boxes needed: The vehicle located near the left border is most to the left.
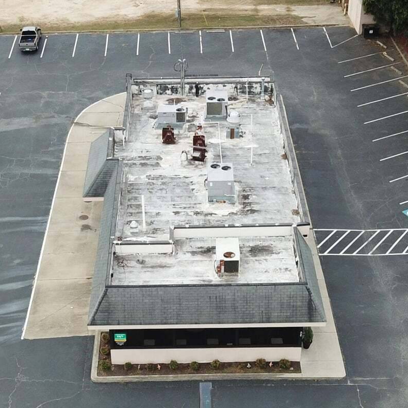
[17,21,47,47]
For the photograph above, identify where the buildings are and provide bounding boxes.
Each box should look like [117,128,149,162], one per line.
[82,57,327,364]
[348,0,377,34]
